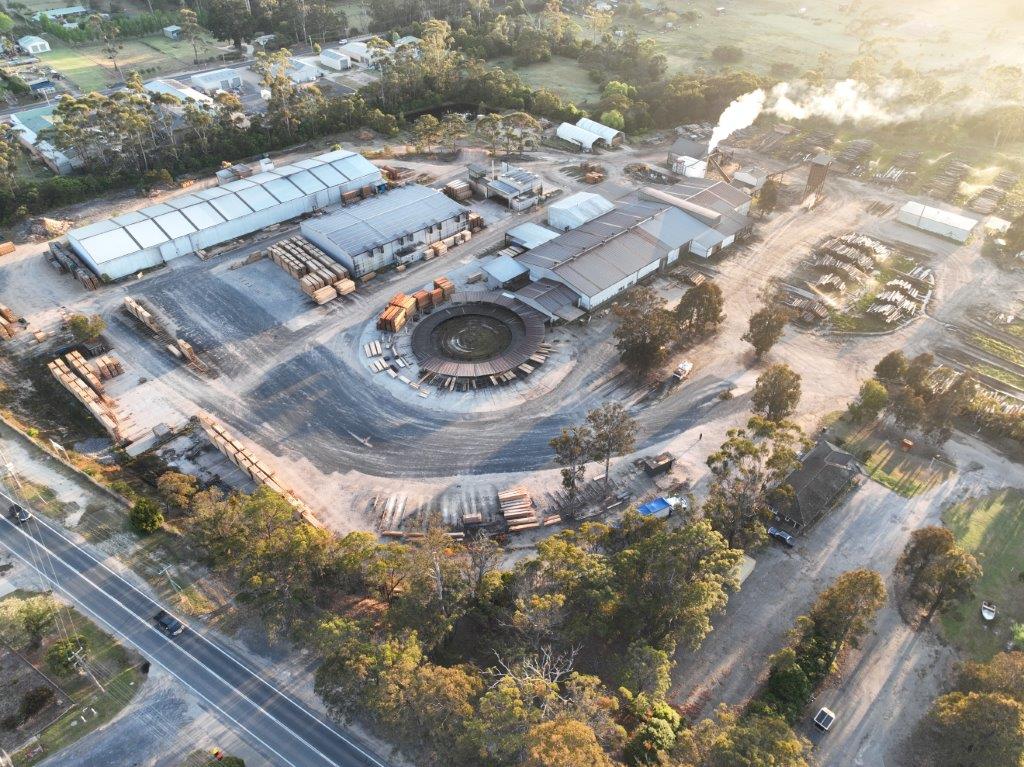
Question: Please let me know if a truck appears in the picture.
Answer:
Yes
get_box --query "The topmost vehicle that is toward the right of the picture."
[673,360,693,377]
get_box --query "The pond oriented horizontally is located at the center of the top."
[408,101,545,124]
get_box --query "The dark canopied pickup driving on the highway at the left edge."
[3,500,32,523]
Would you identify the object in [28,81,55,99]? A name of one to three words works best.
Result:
house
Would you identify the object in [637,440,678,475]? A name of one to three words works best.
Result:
shed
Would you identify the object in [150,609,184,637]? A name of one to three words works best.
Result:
truck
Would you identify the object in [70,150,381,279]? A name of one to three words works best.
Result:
shed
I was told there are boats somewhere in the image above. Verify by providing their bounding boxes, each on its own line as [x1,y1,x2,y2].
[980,597,995,619]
